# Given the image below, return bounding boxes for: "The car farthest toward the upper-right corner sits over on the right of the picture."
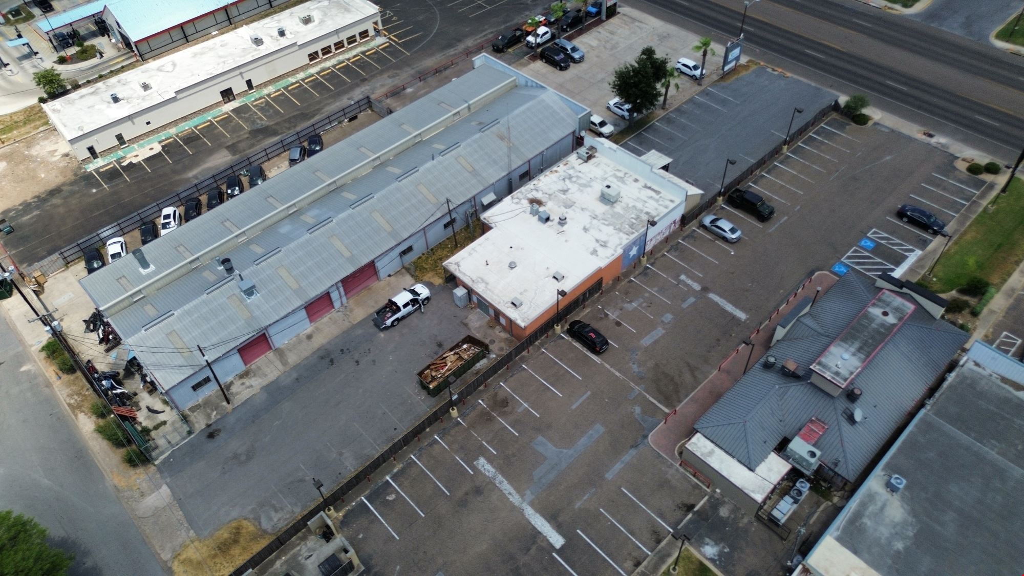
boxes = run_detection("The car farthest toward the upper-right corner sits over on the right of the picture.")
[899,202,948,232]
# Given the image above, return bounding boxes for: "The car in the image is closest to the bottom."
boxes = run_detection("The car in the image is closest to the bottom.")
[566,315,613,354]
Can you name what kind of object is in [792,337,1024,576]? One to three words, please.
building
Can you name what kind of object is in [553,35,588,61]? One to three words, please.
car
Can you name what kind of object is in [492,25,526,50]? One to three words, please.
truck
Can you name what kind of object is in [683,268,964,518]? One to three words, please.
building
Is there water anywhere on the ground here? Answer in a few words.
No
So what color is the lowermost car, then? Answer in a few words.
black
